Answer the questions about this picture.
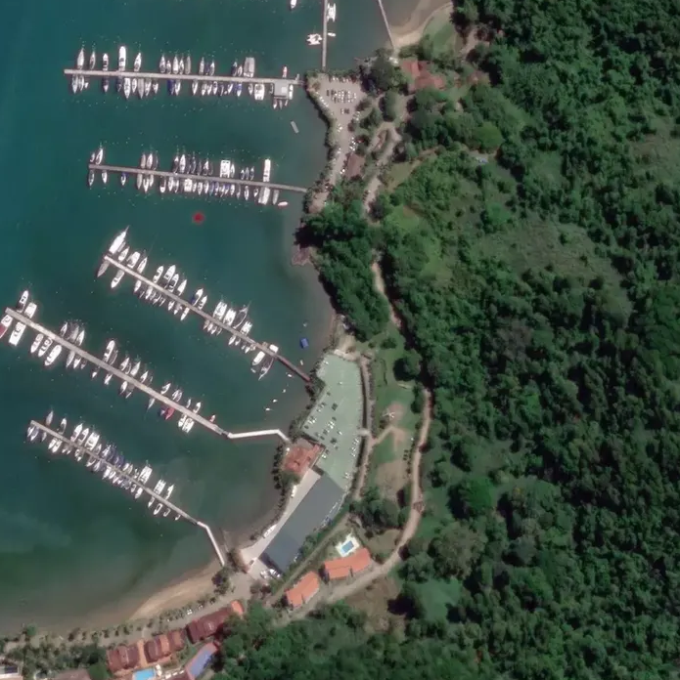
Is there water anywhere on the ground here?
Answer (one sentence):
Yes, water can be seen from above here.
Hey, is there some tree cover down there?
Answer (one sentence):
Yes, some tree cover is visible.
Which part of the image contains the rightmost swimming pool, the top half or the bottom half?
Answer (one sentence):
The bottom half of the photo is where the rightmost swimming pool is.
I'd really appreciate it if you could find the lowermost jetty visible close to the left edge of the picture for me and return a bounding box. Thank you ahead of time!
[32,421,198,524]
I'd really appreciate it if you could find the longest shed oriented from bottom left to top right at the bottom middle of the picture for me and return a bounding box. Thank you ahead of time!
[263,475,345,572]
